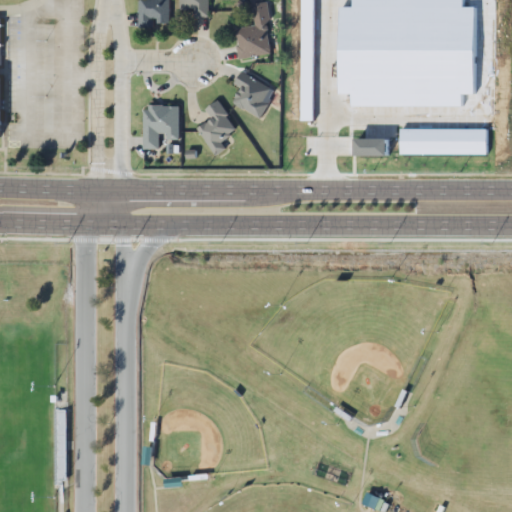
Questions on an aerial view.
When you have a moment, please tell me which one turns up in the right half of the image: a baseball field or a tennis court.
baseball field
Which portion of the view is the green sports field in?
bottom left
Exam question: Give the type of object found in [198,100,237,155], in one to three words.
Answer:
house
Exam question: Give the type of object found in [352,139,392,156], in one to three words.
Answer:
building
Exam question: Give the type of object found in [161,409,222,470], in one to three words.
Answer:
baseball field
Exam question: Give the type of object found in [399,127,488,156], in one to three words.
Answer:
building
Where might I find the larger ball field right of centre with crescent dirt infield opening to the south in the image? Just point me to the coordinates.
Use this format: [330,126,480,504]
[332,342,403,416]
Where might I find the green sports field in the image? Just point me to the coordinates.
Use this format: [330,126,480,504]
[0,312,56,512]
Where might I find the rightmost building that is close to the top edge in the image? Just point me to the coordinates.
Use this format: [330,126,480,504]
[336,0,478,106]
